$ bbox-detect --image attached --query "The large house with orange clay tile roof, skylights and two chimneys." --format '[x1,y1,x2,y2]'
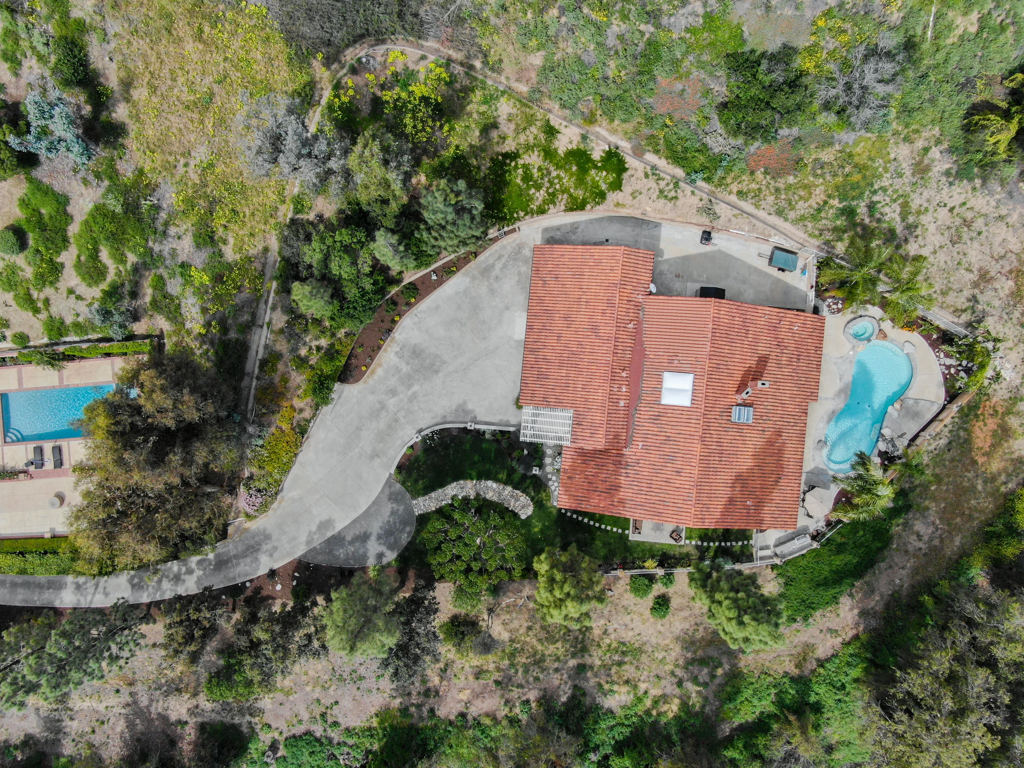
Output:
[517,243,827,532]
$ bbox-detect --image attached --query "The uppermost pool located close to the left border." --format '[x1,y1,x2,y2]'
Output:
[0,382,157,444]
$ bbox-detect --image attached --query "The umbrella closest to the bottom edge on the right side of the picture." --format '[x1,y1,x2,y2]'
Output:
[805,487,833,515]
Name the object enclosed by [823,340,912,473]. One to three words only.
swimming pool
